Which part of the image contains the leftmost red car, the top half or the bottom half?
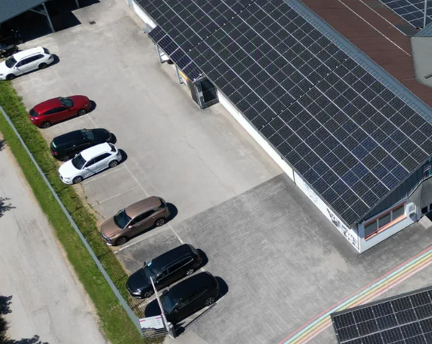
top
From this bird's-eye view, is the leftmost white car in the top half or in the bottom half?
top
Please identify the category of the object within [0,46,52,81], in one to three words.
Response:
car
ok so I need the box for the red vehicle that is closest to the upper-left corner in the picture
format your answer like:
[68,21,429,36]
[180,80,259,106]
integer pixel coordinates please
[29,97,89,129]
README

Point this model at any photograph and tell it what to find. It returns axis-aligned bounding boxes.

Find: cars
[100,198,171,247]
[124,246,203,302]
[0,46,52,81]
[29,97,89,129]
[144,274,223,332]
[60,145,122,184]
[46,127,112,163]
